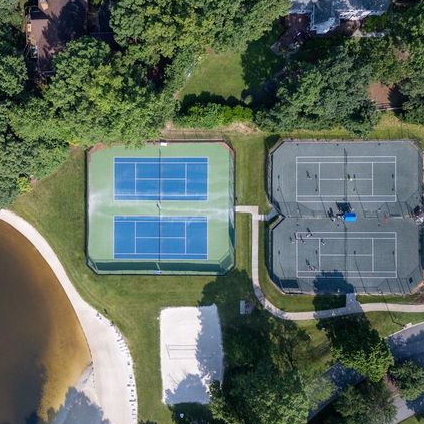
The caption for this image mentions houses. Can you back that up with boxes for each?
[22,0,89,61]
[280,0,394,39]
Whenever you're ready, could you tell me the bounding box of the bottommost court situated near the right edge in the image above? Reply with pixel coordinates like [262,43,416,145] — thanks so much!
[273,217,422,293]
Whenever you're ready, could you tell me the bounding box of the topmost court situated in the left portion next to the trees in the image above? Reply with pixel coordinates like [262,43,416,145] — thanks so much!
[89,143,233,209]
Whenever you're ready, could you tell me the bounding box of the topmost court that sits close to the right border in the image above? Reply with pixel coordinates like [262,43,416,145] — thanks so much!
[275,142,422,217]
